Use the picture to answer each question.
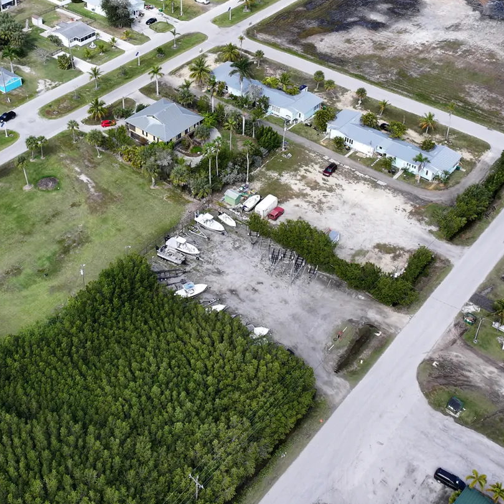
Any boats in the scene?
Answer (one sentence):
Yes, a boat appears in the view.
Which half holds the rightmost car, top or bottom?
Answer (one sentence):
It is in the bottom half that the rightmost car appears.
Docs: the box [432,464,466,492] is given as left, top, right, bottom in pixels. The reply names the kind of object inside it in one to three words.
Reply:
car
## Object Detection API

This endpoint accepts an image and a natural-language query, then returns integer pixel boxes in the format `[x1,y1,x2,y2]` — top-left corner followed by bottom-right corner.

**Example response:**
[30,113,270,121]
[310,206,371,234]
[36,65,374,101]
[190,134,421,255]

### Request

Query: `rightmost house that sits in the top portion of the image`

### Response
[328,113,460,185]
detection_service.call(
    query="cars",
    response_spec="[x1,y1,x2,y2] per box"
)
[0,113,16,122]
[98,119,118,128]
[324,163,336,177]
[267,207,284,220]
[432,464,466,492]
[144,19,159,25]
